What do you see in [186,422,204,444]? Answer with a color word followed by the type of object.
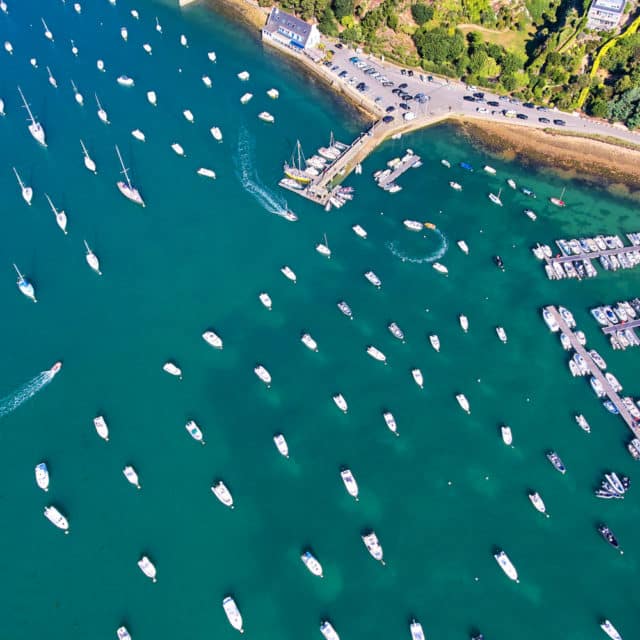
white boat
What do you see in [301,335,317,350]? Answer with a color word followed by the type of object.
white boat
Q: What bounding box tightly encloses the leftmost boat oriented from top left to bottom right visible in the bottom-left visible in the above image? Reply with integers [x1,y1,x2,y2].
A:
[46,509,70,533]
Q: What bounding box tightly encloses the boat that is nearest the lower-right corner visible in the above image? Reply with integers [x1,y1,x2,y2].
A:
[598,617,621,640]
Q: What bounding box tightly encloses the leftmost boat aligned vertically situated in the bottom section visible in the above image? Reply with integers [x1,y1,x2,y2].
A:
[34,464,49,492]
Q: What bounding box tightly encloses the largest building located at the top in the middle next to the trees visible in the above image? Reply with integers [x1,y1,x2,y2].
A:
[259,6,327,52]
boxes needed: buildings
[259,6,327,52]
[587,0,632,31]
